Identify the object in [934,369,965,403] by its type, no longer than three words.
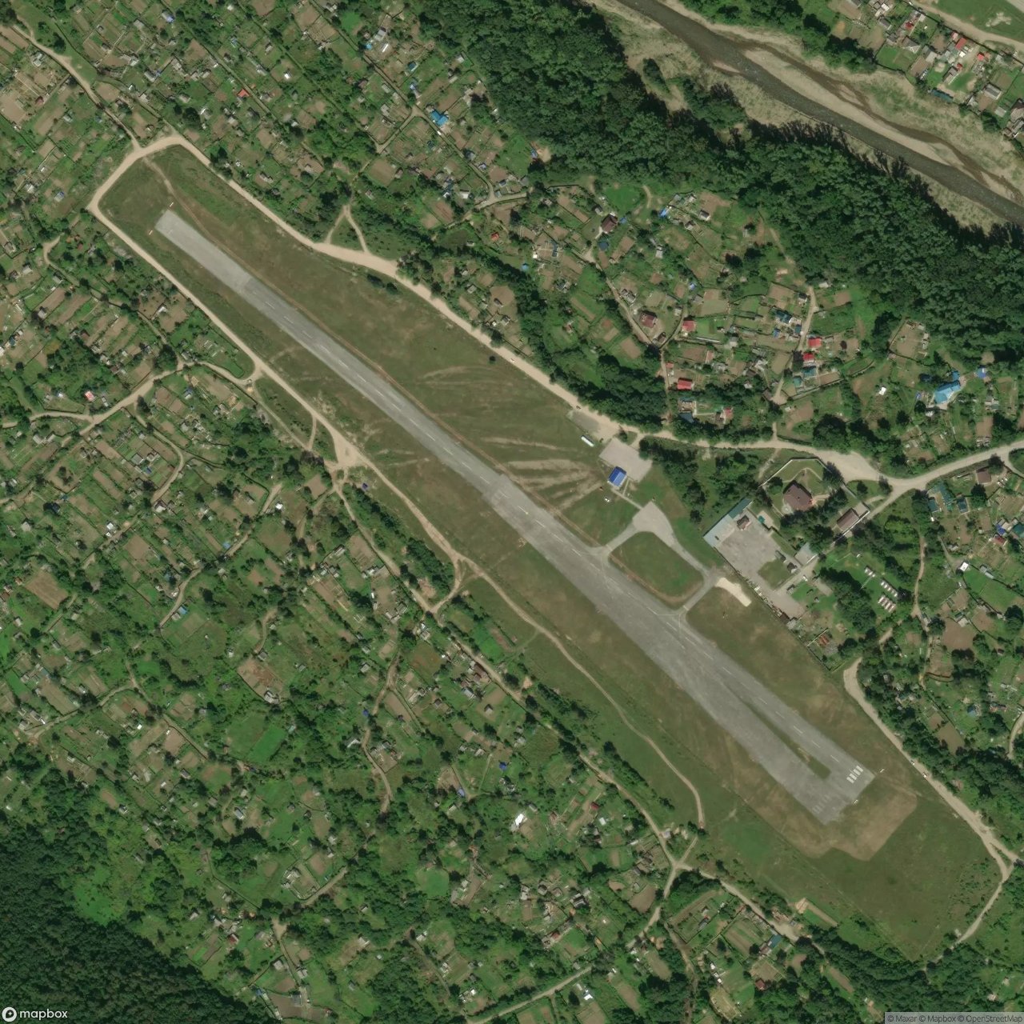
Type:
house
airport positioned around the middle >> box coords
[98,145,999,960]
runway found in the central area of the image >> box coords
[155,210,874,825]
